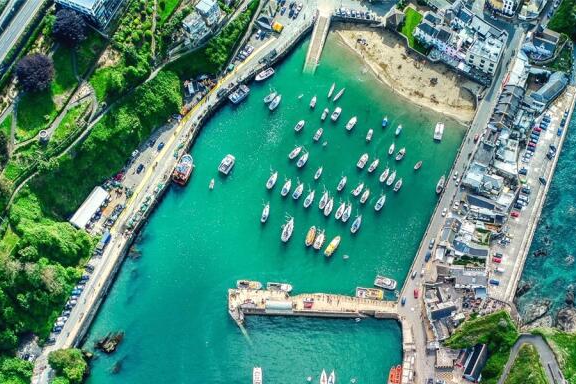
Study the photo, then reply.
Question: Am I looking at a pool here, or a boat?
boat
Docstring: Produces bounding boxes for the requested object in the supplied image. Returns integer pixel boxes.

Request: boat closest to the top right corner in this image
[433,121,445,141]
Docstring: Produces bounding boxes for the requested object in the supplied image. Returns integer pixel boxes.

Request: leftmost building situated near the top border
[56,0,122,34]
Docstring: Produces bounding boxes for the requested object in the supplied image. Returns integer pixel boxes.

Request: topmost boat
[257,68,277,83]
